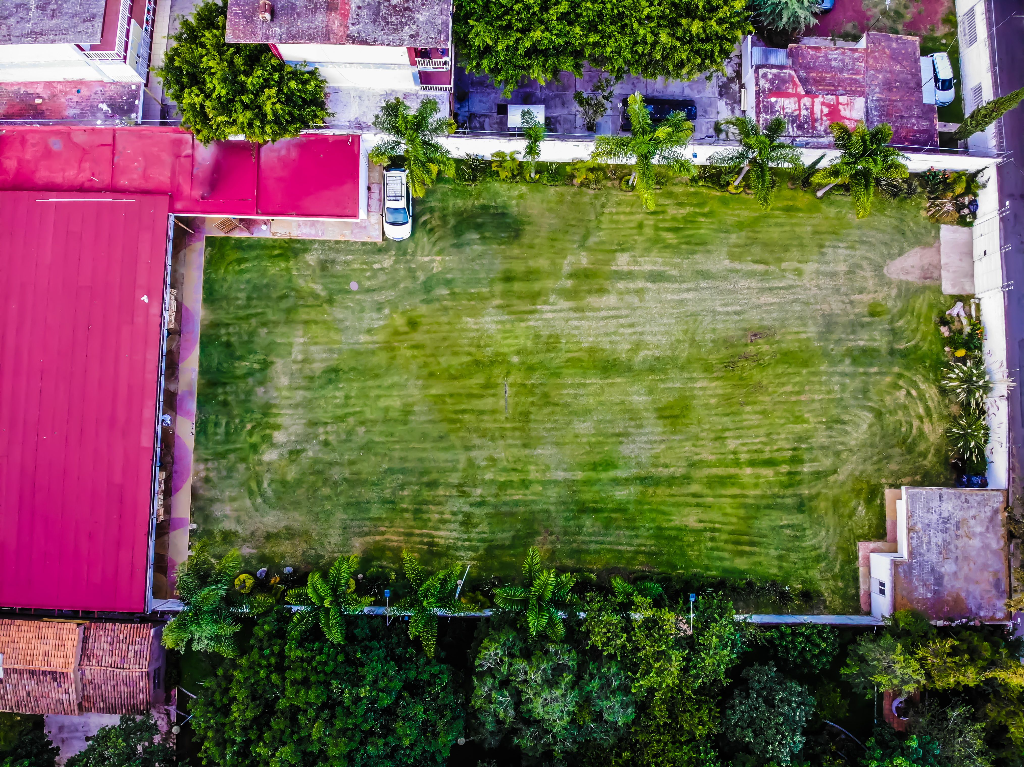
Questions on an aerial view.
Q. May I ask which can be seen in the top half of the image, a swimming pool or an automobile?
automobile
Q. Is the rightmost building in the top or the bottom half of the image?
bottom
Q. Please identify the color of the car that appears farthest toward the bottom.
white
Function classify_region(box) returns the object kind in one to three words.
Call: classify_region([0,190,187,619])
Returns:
building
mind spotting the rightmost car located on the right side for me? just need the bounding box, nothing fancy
[932,47,969,105]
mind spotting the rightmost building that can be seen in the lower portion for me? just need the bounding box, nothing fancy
[871,485,1015,624]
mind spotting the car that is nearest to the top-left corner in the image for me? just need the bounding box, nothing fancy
[377,164,413,238]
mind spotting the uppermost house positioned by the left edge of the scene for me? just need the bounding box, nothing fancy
[0,0,160,125]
